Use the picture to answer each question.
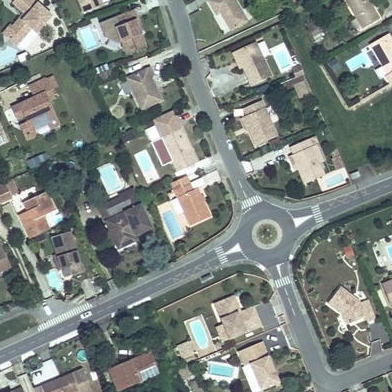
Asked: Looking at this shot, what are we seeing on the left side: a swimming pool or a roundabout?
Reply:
swimming pool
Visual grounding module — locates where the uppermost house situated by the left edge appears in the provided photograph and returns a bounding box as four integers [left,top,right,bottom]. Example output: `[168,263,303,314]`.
[2,0,48,61]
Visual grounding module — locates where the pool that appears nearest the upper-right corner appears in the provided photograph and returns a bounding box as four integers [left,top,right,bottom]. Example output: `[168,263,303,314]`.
[346,50,372,71]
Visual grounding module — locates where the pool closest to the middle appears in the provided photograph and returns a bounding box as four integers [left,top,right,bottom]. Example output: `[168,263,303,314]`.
[162,208,184,238]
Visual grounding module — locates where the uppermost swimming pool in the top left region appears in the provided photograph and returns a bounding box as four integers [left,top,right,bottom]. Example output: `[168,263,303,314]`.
[76,24,104,54]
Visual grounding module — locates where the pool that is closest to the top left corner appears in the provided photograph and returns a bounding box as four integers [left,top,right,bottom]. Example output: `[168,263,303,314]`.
[0,46,18,66]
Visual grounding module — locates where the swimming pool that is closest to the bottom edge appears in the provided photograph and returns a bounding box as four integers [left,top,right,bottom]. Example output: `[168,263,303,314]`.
[202,360,240,383]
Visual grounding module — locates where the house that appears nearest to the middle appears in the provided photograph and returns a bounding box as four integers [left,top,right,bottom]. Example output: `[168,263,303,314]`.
[172,172,212,226]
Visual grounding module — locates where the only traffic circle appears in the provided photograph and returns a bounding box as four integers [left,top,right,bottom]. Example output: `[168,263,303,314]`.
[236,202,298,264]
